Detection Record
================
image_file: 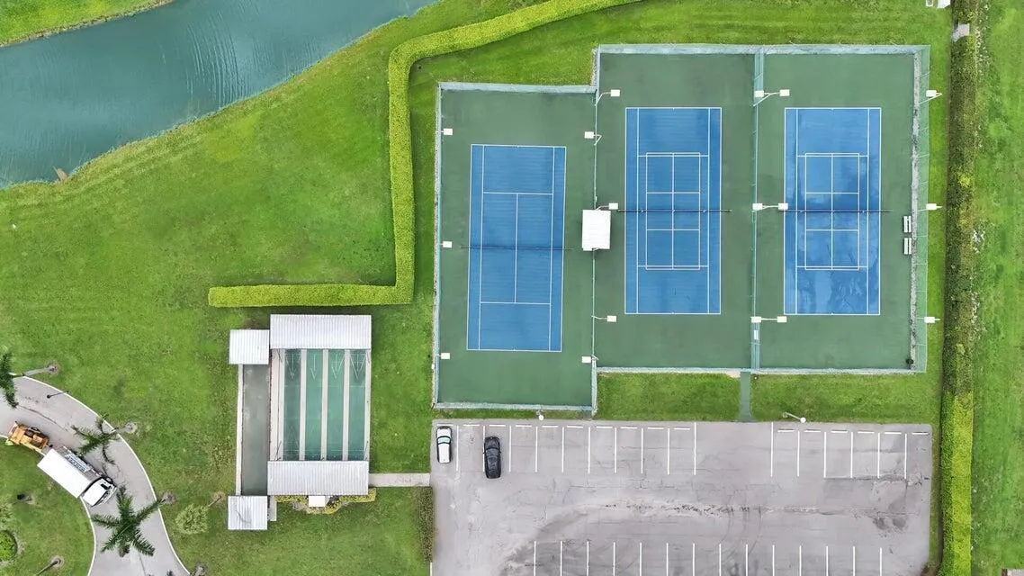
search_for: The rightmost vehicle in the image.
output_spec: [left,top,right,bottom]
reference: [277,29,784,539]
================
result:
[482,435,502,479]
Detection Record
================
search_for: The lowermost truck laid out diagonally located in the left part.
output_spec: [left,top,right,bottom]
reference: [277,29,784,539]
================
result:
[38,443,120,508]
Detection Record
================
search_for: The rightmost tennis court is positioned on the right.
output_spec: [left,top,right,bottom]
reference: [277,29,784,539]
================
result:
[752,54,914,369]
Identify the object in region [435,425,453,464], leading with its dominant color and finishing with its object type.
white car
